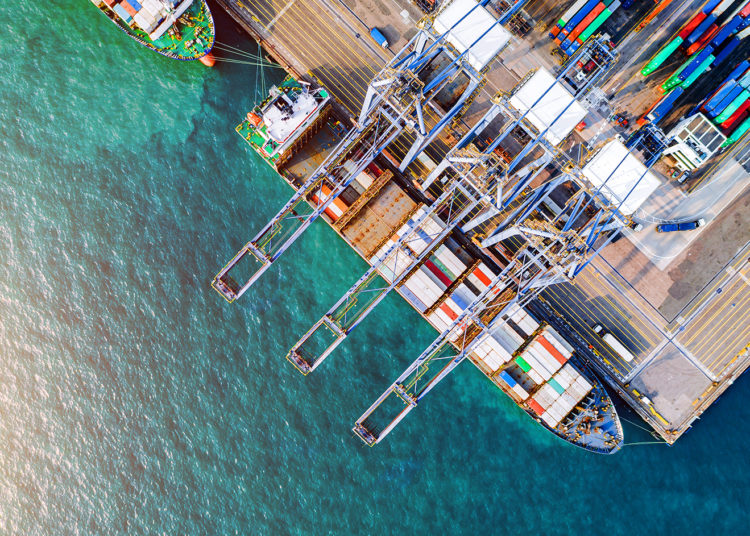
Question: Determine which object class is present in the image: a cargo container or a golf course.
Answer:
cargo container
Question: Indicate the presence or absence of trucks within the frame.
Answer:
Yes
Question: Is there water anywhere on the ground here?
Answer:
Yes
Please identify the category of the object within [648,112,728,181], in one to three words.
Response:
container crane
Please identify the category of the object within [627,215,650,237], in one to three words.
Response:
truck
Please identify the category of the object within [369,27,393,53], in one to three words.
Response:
truck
